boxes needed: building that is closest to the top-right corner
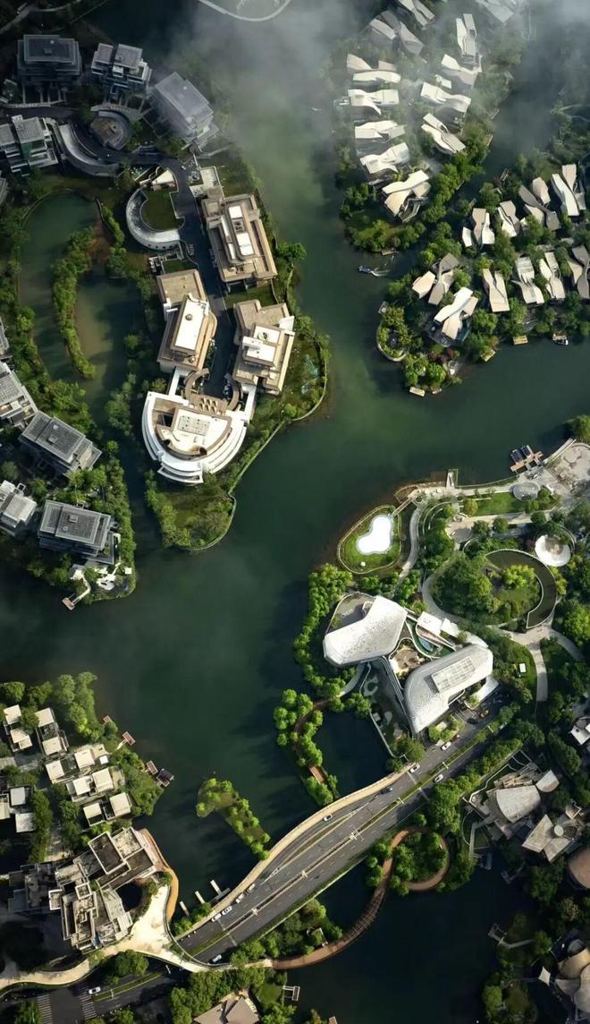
[472,0,528,32]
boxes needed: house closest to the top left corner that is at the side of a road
[19,35,83,112]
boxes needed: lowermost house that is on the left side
[193,991,260,1024]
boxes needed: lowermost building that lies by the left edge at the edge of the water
[9,823,165,951]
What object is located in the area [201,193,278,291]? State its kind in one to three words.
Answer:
building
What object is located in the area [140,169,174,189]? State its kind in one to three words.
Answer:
building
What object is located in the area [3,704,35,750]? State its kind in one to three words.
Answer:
house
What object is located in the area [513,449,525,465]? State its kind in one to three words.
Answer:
boat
